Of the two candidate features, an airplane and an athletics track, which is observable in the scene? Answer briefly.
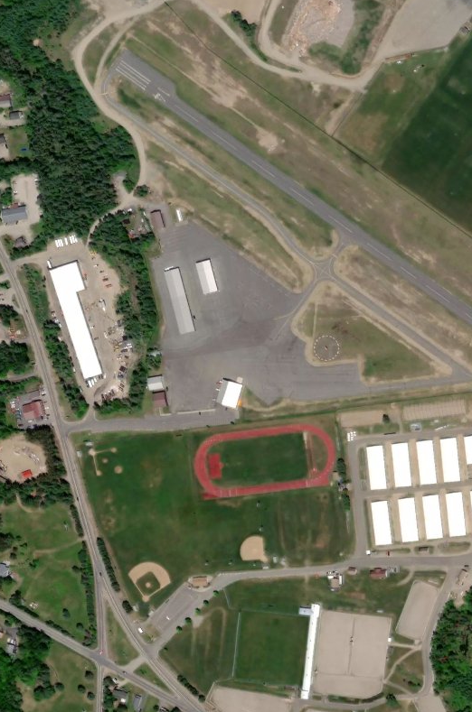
athletics track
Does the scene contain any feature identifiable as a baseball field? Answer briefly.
Yes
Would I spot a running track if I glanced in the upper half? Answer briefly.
No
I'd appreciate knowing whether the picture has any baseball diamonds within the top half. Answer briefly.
No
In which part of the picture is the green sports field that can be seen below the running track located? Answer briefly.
bottom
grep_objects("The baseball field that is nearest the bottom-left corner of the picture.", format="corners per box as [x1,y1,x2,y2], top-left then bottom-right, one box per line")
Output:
[129,562,171,603]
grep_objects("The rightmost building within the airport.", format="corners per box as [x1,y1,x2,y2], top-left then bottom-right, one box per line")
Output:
[219,381,243,408]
